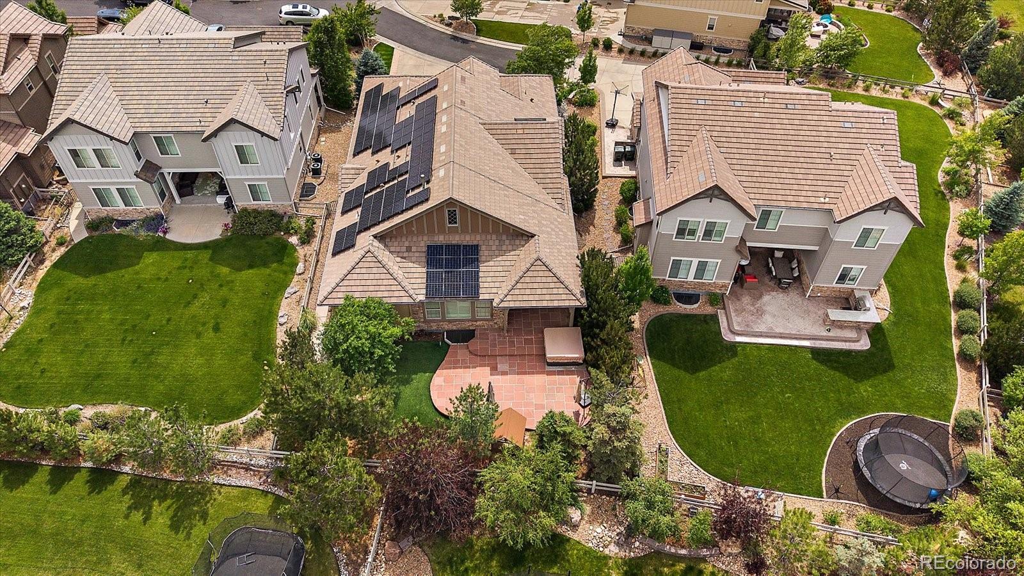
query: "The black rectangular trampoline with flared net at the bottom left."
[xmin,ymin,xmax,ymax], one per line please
[192,512,316,576]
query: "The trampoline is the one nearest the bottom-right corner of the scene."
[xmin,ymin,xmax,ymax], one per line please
[849,412,970,514]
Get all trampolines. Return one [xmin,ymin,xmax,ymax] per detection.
[849,412,970,514]
[192,512,316,576]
